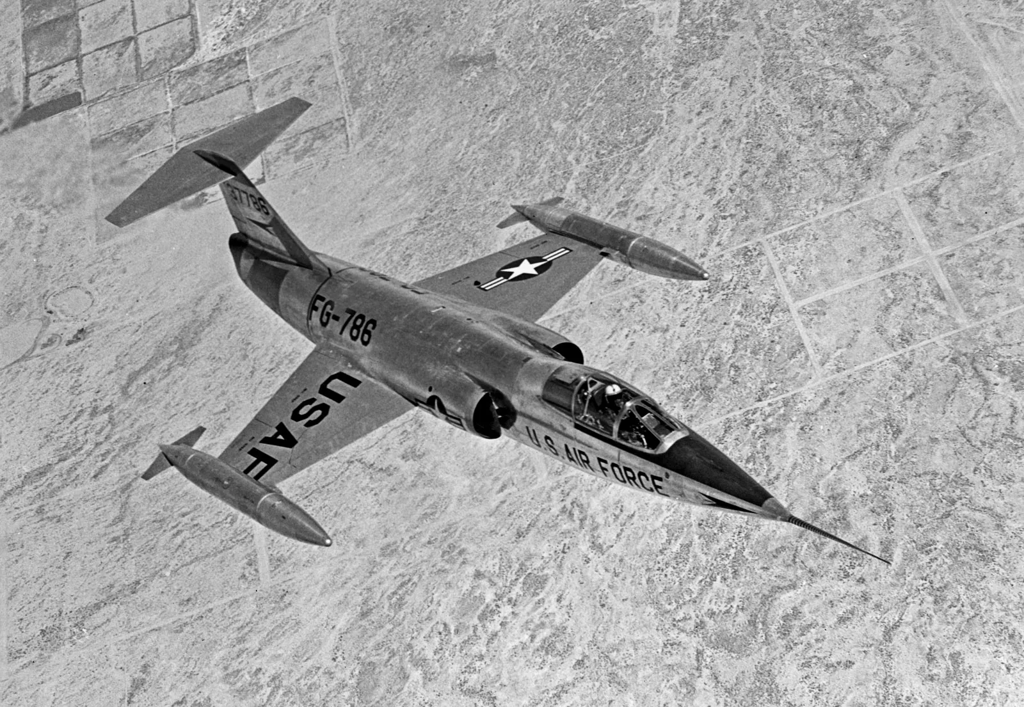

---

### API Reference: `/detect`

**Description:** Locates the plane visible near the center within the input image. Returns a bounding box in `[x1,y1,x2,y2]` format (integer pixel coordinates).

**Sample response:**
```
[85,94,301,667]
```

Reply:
[106,99,891,565]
